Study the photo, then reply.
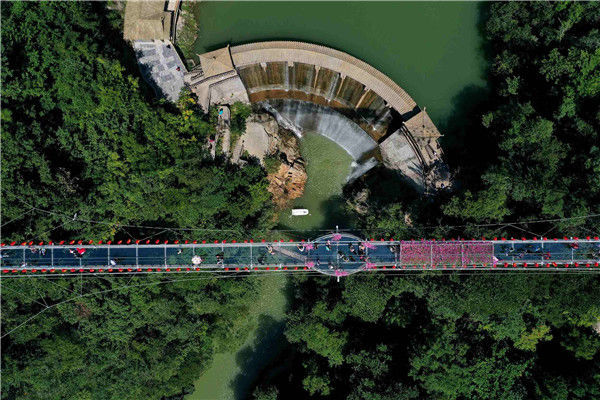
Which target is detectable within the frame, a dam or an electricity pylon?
dam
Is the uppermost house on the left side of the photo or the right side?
left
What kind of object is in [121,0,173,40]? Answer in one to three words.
house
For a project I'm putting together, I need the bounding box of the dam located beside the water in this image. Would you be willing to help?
[235,61,402,161]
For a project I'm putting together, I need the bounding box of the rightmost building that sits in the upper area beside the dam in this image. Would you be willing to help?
[401,106,447,151]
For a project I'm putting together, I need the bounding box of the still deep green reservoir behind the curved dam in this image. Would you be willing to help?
[189,0,490,152]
